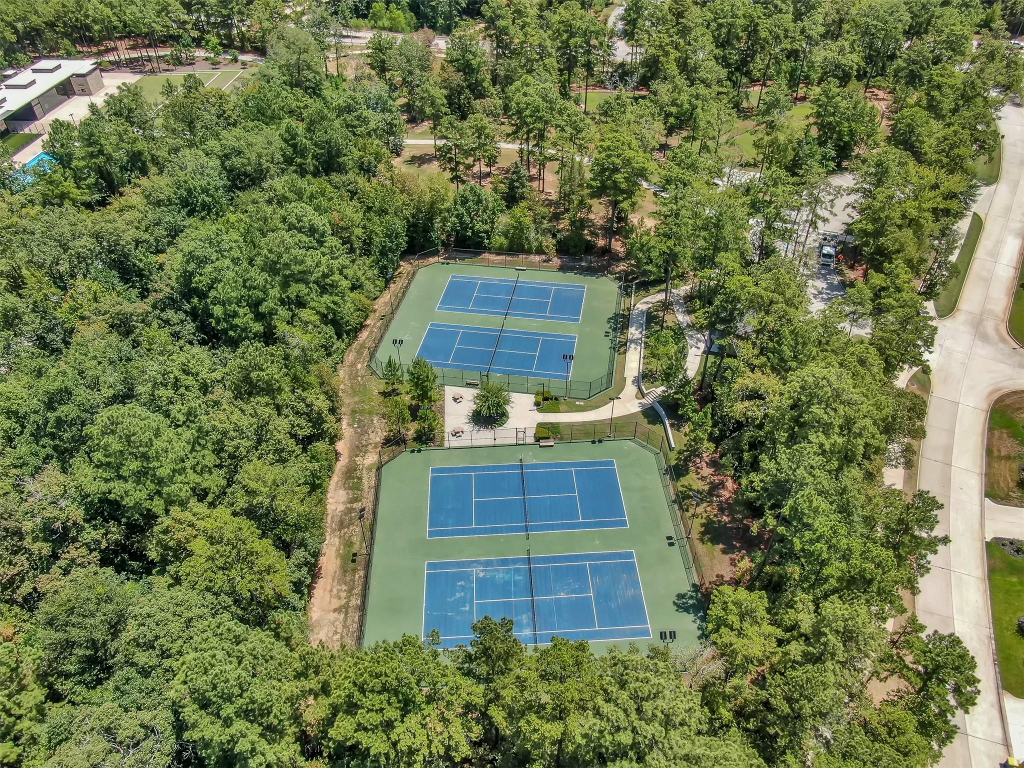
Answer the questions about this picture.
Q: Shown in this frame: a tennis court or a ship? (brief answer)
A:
tennis court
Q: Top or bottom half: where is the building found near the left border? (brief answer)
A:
top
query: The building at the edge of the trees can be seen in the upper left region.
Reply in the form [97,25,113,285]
[0,56,108,140]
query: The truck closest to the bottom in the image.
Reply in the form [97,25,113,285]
[821,230,842,260]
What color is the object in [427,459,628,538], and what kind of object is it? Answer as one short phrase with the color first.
blue tennis court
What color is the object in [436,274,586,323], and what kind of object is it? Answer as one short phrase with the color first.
blue tennis court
